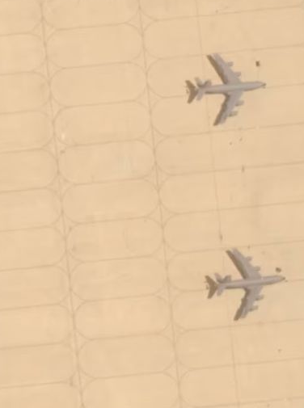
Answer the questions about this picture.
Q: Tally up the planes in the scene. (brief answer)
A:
2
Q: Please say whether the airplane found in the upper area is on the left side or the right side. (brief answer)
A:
right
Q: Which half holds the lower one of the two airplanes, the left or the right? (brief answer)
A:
right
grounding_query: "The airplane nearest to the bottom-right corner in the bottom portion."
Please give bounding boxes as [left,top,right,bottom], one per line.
[214,247,285,318]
